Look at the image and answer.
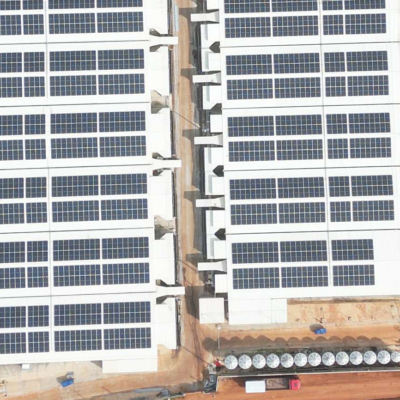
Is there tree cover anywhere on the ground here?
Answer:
No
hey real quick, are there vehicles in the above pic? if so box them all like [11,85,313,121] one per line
[61,378,77,388]
[315,327,329,336]
[247,380,303,395]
